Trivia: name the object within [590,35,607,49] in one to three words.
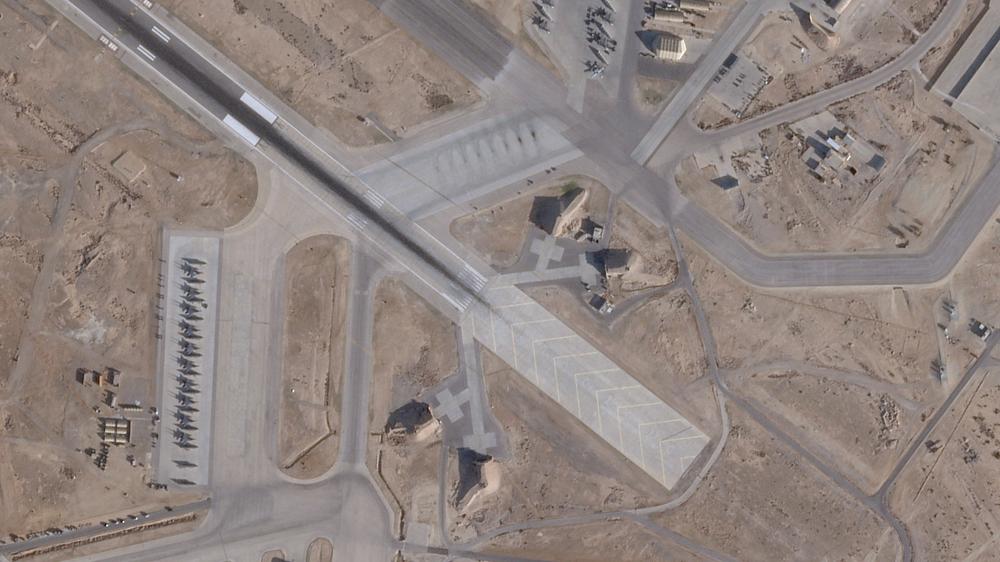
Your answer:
airplane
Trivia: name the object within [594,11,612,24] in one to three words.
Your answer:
airplane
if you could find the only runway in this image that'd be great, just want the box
[68,0,490,314]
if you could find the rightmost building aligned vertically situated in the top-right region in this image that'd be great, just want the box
[958,39,1000,135]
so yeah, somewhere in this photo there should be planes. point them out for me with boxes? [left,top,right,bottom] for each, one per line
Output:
[187,264,205,277]
[178,412,196,425]
[179,394,197,407]
[181,357,199,369]
[183,339,200,351]
[594,11,612,24]
[180,375,198,388]
[177,431,195,443]
[184,320,201,332]
[590,35,607,49]
[531,19,549,32]
[185,302,202,314]
[186,283,204,295]
[535,0,553,7]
